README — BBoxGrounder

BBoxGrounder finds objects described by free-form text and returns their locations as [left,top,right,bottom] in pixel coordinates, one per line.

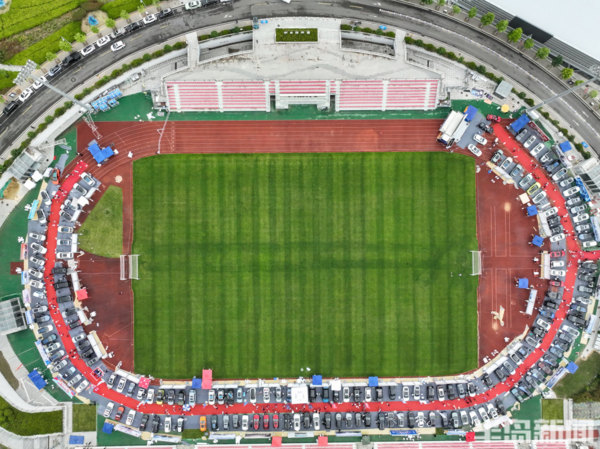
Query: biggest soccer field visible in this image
[134,152,478,380]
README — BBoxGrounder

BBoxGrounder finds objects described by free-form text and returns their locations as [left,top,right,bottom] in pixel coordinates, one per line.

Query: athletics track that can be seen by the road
[23,120,551,387]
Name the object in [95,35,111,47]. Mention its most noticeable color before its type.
white vehicle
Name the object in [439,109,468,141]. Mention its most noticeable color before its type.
white truck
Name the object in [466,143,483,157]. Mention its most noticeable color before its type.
white car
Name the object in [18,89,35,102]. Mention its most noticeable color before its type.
white vehicle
